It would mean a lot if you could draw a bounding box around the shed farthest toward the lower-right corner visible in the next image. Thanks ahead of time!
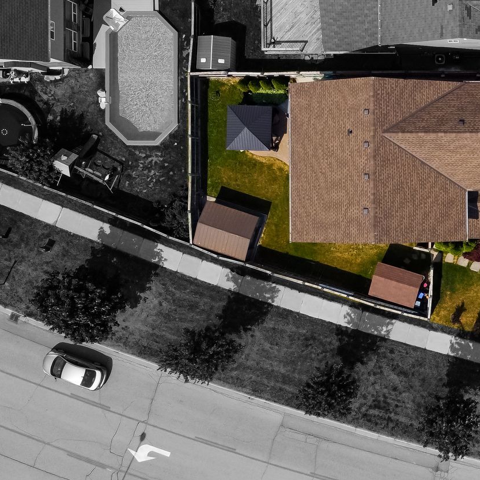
[369,263,426,308]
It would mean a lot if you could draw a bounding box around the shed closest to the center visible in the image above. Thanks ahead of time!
[194,201,264,261]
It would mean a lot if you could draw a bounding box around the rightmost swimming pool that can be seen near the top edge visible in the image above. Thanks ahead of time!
[106,11,184,145]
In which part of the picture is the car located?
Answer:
bottom left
